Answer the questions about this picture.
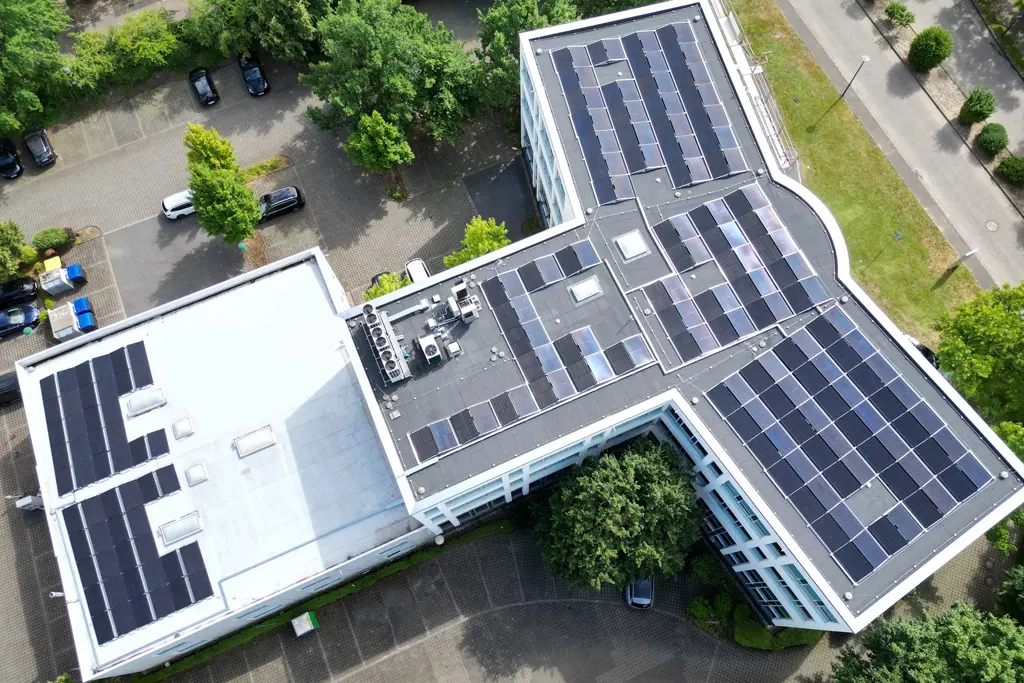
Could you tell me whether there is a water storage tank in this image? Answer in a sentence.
No, the picture doesn't show any water storage tank.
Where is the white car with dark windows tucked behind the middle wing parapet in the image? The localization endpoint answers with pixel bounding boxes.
[402,253,432,282]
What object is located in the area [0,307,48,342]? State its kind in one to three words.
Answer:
car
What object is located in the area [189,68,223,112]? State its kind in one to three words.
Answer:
car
